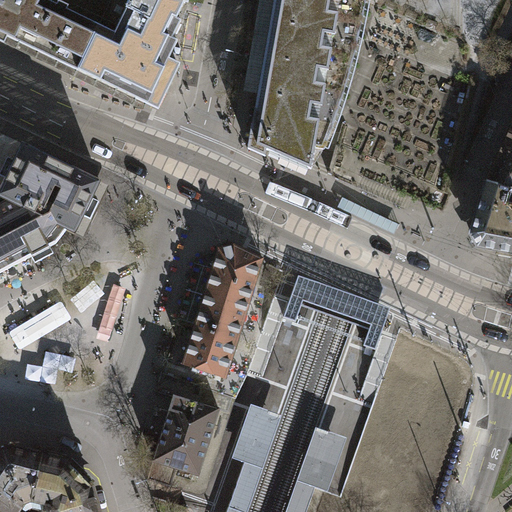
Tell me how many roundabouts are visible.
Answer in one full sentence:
The picture shows no roundabouts.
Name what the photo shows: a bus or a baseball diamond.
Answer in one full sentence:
The image shows a bus.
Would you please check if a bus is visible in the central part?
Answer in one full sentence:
Yes, a bus can be seen in the central part.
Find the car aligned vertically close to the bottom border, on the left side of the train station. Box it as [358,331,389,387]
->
[96,486,108,510]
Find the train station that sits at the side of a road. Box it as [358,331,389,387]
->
[202,276,402,512]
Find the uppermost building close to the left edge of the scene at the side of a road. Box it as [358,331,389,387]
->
[0,0,190,115]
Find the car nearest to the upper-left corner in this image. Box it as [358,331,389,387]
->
[90,142,113,158]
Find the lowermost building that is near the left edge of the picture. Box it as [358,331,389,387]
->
[0,440,99,512]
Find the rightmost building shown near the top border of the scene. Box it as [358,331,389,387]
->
[239,0,372,174]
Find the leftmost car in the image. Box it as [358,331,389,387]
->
[60,436,82,452]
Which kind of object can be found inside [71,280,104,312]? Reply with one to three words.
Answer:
tent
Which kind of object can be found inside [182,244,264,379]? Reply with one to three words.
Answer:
house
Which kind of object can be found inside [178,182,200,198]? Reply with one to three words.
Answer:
car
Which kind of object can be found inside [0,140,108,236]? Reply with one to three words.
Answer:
building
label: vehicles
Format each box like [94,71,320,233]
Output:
[126,160,150,177]
[60,436,82,452]
[408,254,432,270]
[484,327,508,342]
[178,182,200,198]
[96,486,108,510]
[264,180,352,227]
[90,142,113,158]
[370,237,394,254]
